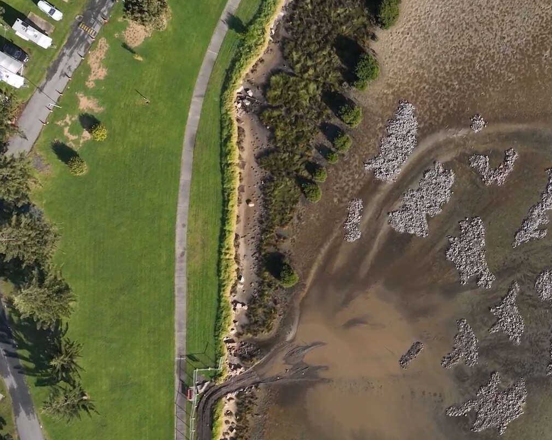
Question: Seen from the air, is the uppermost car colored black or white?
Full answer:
In this view, the uppermost car is white.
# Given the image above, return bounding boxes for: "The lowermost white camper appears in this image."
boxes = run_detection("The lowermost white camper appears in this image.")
[0,51,34,90]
